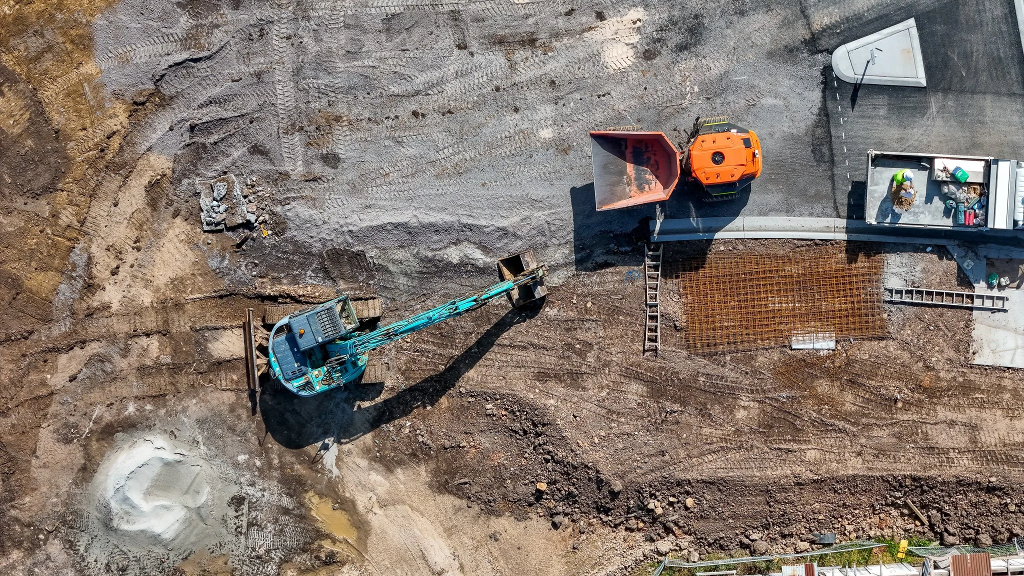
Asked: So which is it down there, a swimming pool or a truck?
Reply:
truck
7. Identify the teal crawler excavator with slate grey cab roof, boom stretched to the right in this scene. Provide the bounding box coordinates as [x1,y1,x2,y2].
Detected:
[243,246,555,398]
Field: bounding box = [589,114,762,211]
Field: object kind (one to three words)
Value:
truck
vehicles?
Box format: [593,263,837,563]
[589,114,762,211]
[243,246,555,398]
[863,149,1024,233]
